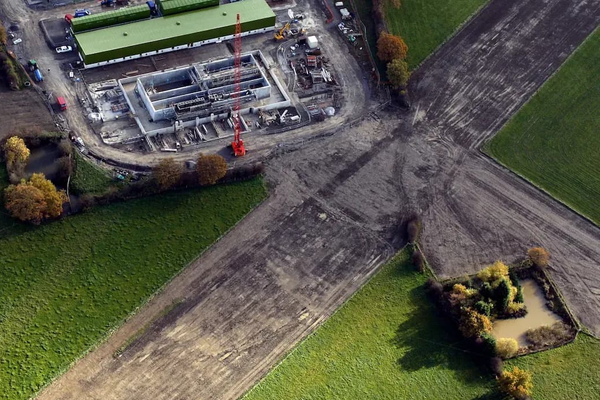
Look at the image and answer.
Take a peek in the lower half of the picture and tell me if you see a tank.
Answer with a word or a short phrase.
No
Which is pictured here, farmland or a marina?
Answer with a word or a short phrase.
farmland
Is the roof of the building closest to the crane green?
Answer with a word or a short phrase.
Yes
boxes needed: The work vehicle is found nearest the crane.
[273,24,291,42]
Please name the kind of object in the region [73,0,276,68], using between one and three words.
building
